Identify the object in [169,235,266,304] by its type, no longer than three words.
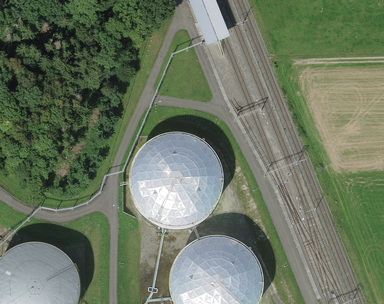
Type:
storage tank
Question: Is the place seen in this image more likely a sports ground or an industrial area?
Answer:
industrial area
